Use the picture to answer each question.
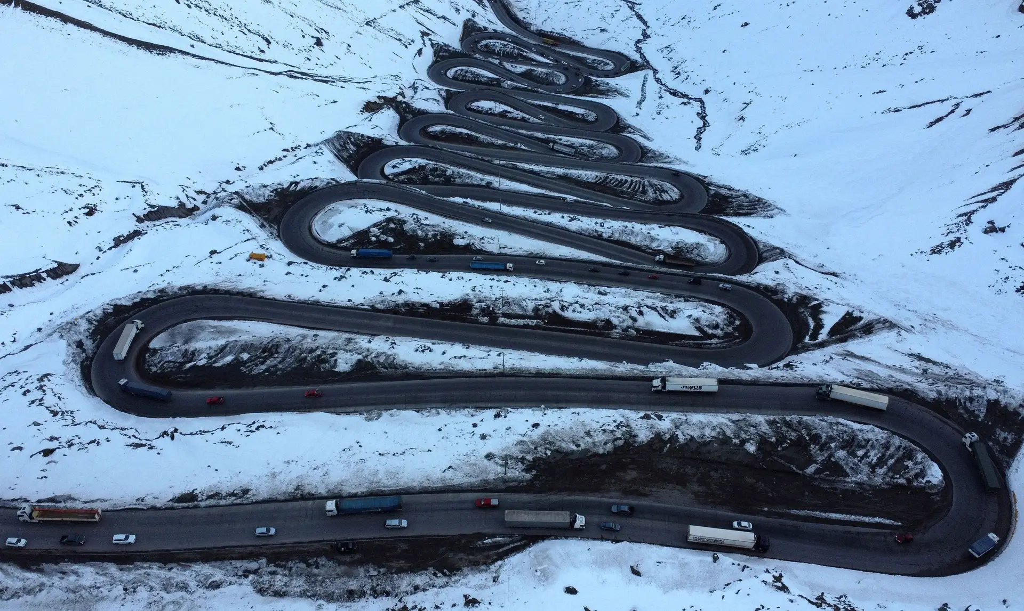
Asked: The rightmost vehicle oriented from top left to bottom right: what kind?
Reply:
truck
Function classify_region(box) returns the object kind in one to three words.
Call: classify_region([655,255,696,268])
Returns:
vehicle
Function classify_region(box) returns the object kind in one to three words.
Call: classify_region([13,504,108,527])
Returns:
truck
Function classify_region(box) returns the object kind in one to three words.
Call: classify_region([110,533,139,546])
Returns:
vehicle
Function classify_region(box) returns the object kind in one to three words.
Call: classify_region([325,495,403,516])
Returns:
truck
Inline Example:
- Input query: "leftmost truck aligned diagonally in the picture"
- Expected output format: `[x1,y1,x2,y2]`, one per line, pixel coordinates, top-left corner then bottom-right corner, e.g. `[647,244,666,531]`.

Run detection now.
[113,320,149,359]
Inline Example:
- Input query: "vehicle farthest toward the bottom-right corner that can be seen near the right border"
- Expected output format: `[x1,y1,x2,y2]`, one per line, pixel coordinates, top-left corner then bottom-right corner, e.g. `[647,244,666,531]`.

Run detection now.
[963,531,1004,561]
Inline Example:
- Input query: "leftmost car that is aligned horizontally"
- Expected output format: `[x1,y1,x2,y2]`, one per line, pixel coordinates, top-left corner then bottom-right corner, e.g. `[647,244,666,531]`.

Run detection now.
[1,536,32,549]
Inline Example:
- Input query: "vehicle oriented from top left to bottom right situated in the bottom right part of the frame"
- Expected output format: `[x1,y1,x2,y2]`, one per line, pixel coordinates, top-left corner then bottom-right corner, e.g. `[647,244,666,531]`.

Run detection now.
[957,433,1009,492]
